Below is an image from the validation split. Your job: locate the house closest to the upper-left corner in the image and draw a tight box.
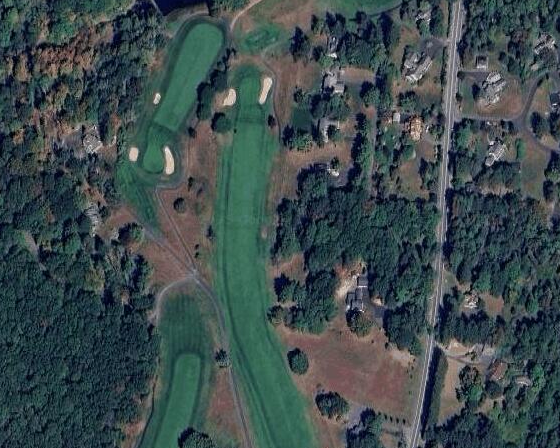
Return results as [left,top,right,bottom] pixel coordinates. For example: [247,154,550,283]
[80,130,104,153]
